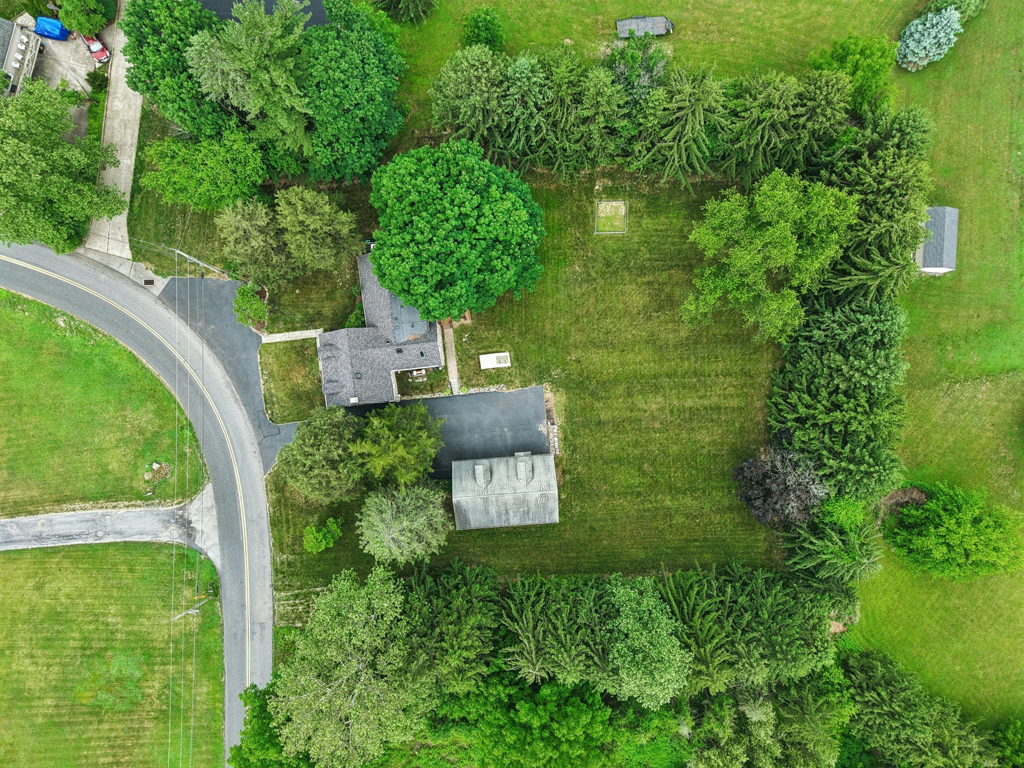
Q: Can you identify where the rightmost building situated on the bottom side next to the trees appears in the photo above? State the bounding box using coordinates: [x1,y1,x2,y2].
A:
[451,451,559,531]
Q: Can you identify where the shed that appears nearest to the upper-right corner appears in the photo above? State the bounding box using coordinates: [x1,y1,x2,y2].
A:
[906,206,958,273]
